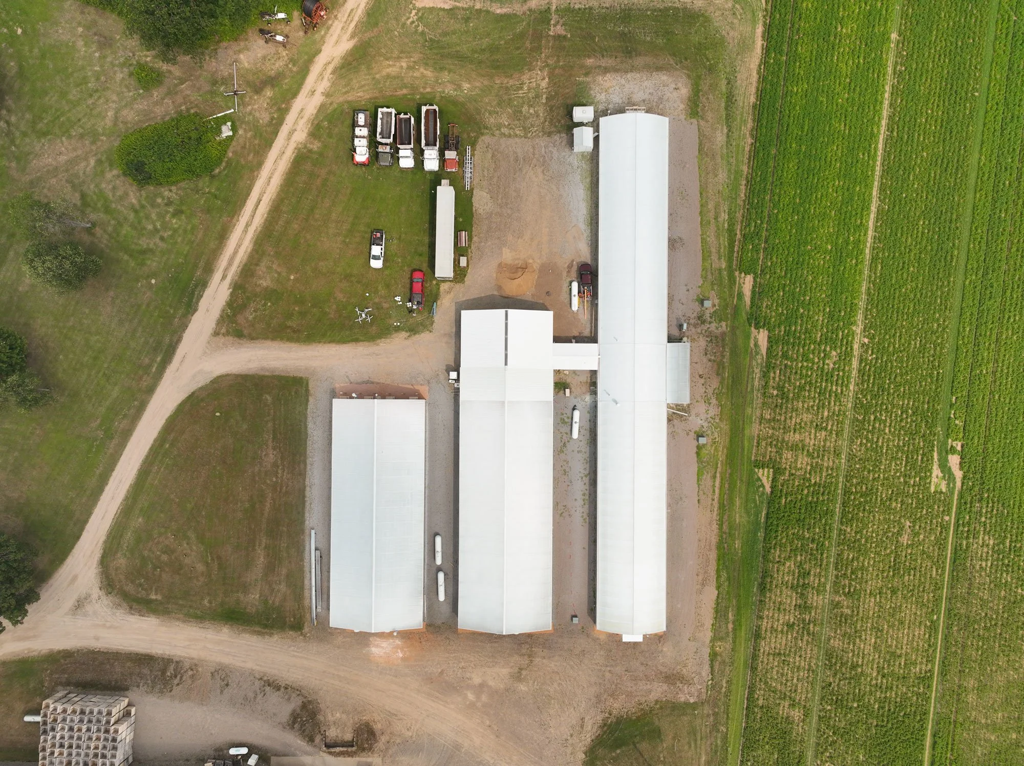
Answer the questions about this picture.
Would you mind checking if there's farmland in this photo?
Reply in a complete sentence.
Yes, the picture does contain farmland.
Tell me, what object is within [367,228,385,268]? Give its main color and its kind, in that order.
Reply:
white vehicle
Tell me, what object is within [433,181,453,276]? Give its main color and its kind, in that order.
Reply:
white trailer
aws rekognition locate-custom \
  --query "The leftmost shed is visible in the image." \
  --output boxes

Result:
[330,392,431,635]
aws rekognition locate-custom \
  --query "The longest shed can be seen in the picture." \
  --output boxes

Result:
[595,106,670,639]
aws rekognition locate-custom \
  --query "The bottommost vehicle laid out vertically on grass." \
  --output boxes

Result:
[408,270,424,309]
